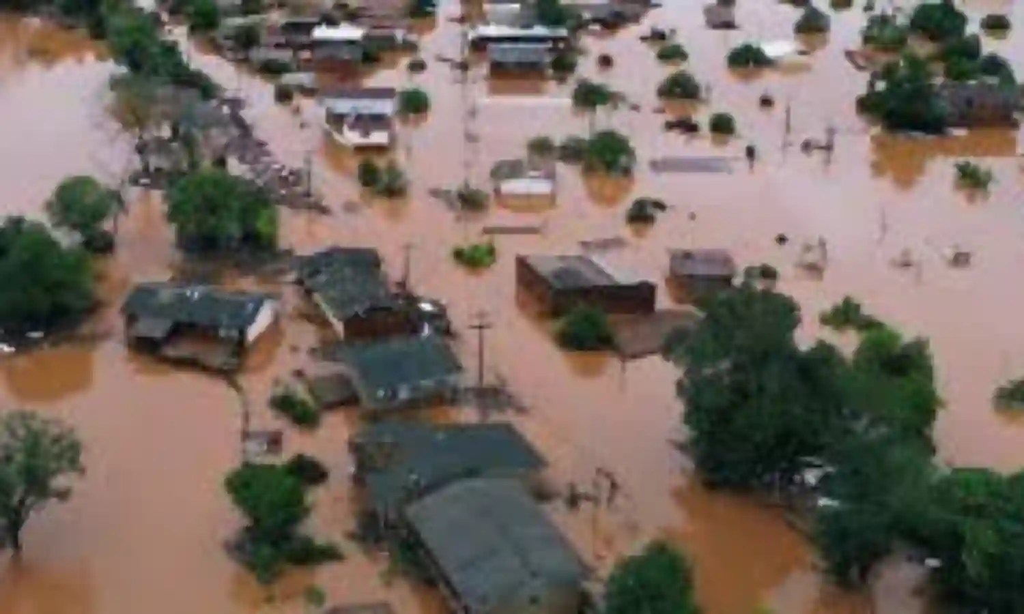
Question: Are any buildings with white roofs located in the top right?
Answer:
Yes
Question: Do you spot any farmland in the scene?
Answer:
No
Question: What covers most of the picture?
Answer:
water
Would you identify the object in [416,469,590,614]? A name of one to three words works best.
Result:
house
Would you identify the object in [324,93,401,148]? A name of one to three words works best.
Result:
house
